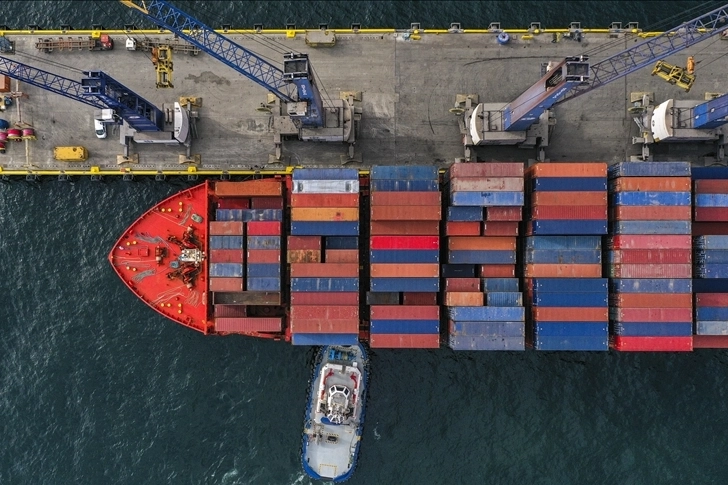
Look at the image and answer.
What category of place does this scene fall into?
port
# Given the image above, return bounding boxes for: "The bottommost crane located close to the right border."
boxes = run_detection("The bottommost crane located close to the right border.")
[631,92,728,164]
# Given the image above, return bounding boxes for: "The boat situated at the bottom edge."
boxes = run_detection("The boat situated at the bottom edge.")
[300,339,370,485]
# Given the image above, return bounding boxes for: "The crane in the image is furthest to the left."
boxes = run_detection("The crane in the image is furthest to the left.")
[0,48,205,161]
